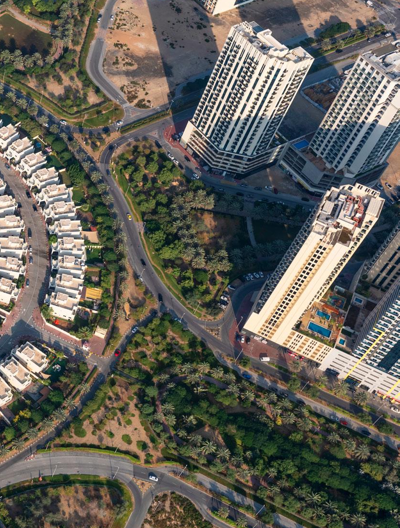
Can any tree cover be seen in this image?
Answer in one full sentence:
Yes, tree cover can be seen from above here.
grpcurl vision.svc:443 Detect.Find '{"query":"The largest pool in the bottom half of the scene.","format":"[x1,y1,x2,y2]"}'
[309,325,333,342]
